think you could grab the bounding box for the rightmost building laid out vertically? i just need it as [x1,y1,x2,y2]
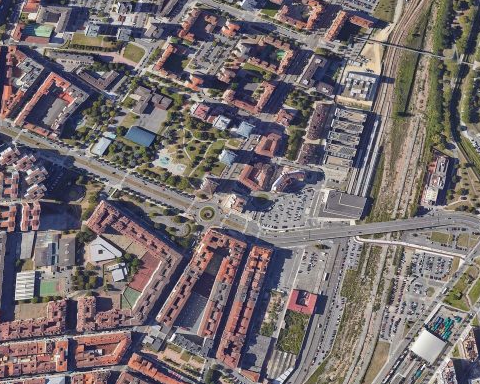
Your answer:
[463,328,479,363]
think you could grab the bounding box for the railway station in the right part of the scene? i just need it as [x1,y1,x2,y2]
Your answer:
[323,189,366,221]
